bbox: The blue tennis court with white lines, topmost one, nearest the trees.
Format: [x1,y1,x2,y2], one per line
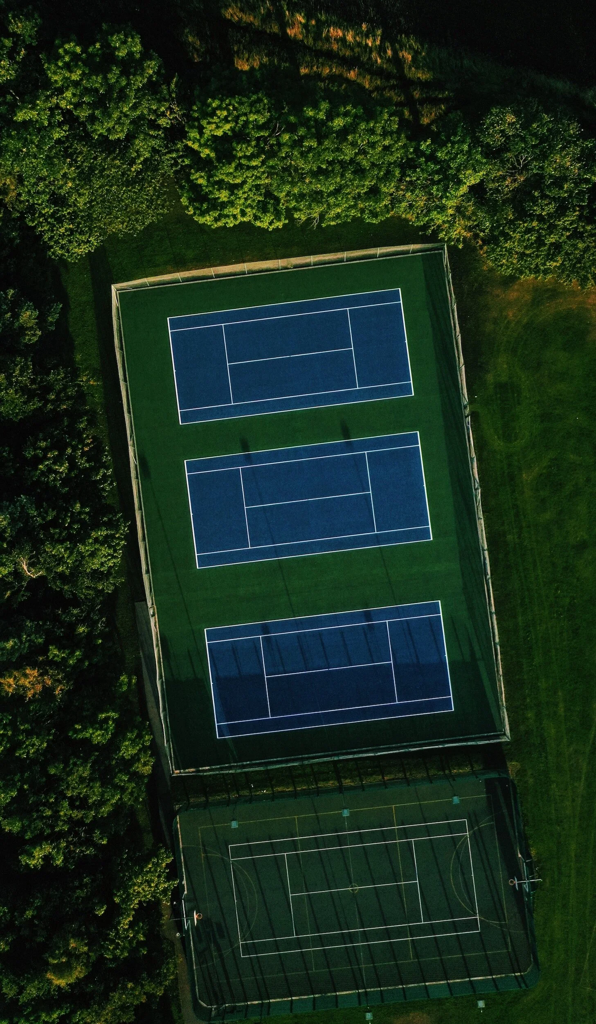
[167,288,414,425]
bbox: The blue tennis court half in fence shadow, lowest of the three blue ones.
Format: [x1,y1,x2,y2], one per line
[204,601,454,738]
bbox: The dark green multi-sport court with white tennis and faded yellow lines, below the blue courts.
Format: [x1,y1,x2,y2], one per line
[176,766,534,1008]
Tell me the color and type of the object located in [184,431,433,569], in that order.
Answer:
blue tennis court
